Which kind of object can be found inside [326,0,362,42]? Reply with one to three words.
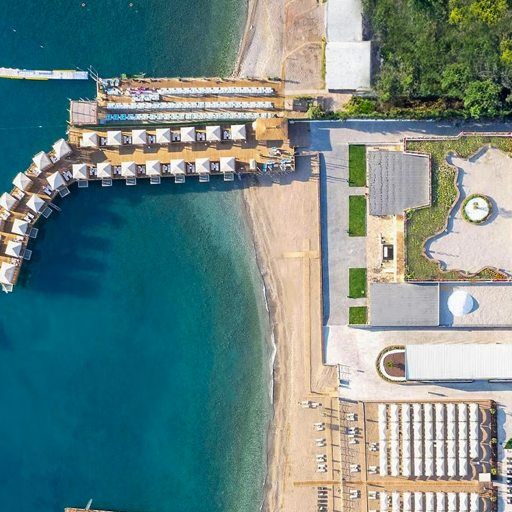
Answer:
building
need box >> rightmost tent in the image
[448,291,475,316]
